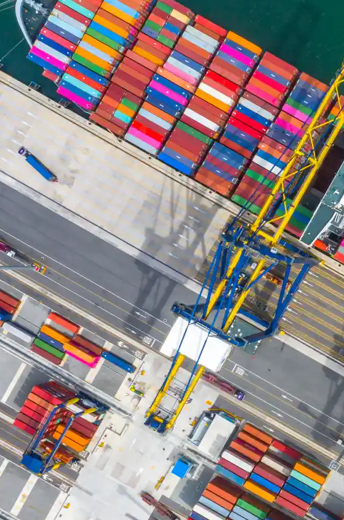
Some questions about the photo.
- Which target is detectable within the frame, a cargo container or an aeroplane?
cargo container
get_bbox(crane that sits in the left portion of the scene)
[22,391,109,481]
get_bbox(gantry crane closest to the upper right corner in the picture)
[141,57,344,436]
